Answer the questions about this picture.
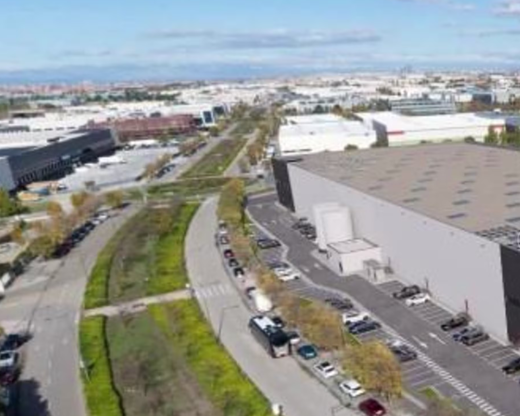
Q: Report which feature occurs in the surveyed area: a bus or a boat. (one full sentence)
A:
It is a bus that can be seen here.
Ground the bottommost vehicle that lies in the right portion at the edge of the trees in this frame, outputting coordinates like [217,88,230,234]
[356,398,387,416]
